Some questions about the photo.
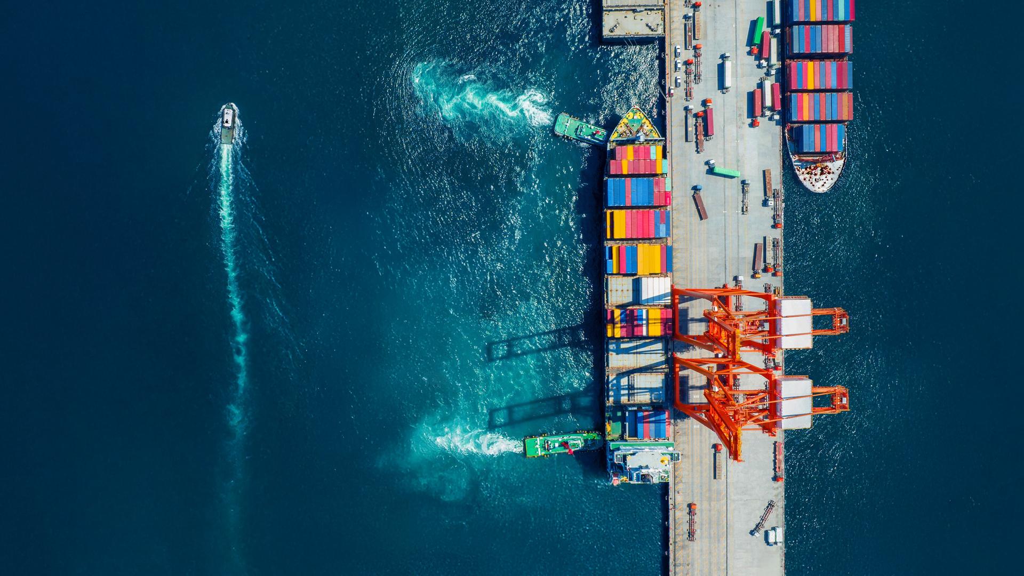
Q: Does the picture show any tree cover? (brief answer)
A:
No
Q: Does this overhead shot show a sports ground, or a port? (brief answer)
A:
port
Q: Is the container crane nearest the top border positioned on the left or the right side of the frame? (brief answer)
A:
right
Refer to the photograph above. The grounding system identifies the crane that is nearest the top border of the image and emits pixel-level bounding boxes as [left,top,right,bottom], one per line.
[672,286,849,360]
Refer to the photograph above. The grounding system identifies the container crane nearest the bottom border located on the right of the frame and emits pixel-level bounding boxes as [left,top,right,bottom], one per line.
[672,355,849,459]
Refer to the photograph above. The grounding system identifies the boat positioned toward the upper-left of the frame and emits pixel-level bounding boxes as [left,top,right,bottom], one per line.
[221,103,236,146]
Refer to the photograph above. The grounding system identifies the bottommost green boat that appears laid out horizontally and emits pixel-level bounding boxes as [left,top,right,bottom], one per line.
[524,432,604,460]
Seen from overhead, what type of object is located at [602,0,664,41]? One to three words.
ship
